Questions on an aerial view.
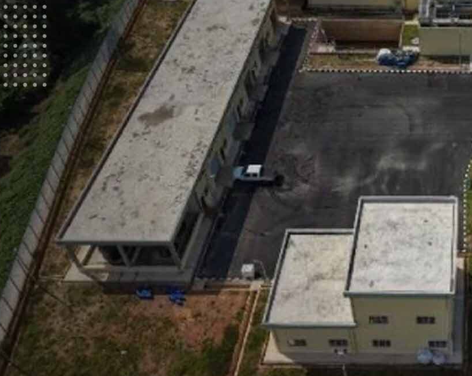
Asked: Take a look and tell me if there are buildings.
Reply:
Yes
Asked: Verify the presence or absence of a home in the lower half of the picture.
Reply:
Yes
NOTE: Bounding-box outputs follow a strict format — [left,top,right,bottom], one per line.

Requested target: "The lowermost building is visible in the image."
[264,197,464,366]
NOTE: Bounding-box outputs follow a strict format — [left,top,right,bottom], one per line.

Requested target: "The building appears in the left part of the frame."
[57,0,292,286]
